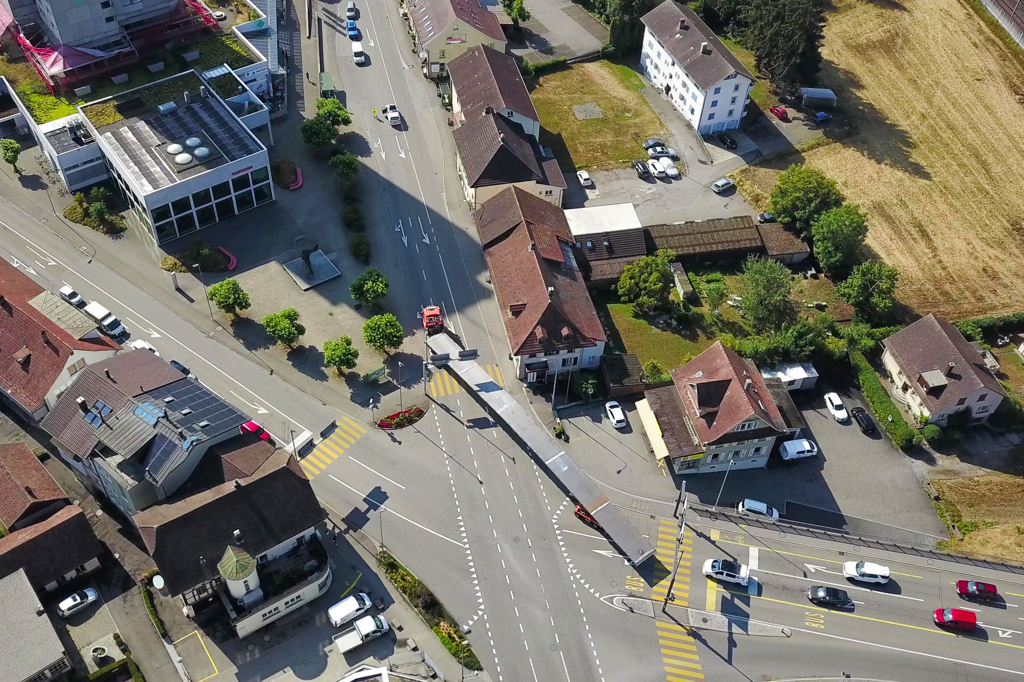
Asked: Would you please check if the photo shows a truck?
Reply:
Yes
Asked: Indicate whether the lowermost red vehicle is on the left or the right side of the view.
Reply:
right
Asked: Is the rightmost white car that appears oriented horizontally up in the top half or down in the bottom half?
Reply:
bottom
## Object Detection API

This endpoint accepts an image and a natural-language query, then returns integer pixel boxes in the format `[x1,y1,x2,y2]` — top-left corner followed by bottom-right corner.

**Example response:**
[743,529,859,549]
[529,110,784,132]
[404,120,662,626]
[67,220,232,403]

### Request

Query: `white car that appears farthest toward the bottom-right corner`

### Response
[845,559,889,585]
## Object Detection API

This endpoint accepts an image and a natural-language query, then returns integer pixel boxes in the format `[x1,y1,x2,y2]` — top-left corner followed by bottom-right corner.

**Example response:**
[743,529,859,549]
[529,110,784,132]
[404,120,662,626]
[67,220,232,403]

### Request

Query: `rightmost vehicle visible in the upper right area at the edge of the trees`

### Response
[809,111,833,125]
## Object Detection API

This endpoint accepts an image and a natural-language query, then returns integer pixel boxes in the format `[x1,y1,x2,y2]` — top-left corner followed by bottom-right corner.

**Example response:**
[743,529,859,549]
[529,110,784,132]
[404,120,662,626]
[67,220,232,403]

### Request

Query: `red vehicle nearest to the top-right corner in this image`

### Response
[767,106,790,122]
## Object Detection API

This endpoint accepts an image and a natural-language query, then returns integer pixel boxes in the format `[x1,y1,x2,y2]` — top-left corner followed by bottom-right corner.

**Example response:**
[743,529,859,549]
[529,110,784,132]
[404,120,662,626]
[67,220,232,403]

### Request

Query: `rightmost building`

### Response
[882,312,1011,420]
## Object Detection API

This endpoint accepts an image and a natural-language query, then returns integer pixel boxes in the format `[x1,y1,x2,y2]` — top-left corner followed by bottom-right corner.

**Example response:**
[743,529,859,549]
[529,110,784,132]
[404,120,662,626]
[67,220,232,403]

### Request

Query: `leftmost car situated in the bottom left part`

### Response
[52,588,102,621]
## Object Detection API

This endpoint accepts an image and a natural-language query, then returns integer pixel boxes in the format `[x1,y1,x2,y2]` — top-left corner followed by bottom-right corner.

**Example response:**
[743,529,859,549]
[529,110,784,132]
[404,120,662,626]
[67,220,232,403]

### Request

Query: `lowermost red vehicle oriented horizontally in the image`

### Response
[932,606,979,632]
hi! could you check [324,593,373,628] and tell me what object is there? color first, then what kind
white van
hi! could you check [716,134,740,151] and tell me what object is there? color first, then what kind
black car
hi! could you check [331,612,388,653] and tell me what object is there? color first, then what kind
white truck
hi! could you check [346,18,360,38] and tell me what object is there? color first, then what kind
blue car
